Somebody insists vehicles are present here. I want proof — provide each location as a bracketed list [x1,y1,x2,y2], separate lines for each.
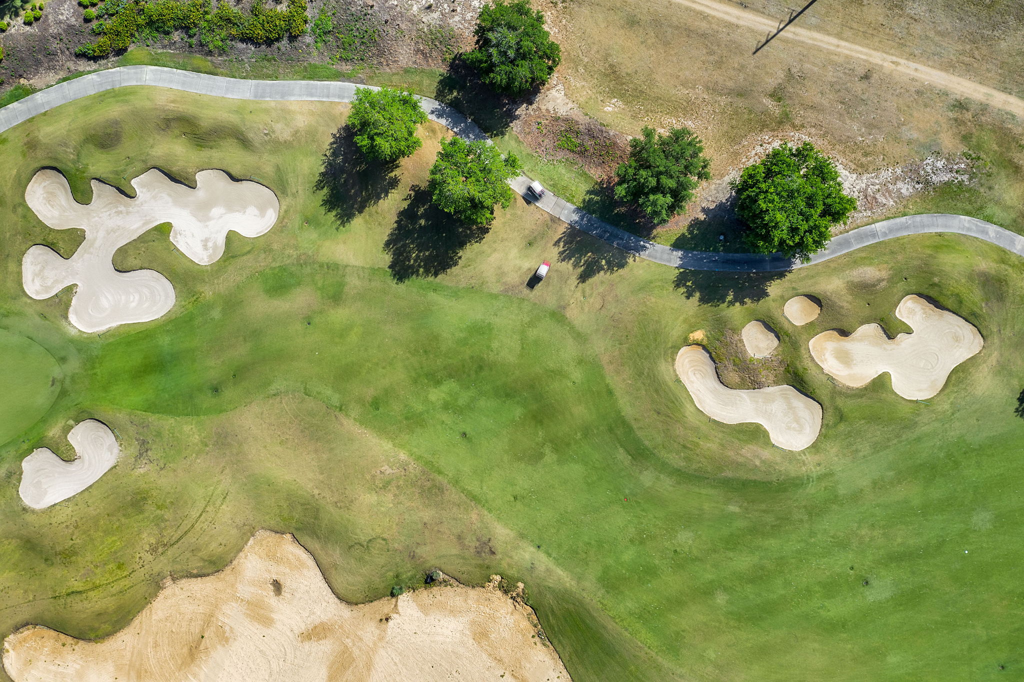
[529,179,546,198]
[536,258,551,278]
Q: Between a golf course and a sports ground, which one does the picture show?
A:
golf course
